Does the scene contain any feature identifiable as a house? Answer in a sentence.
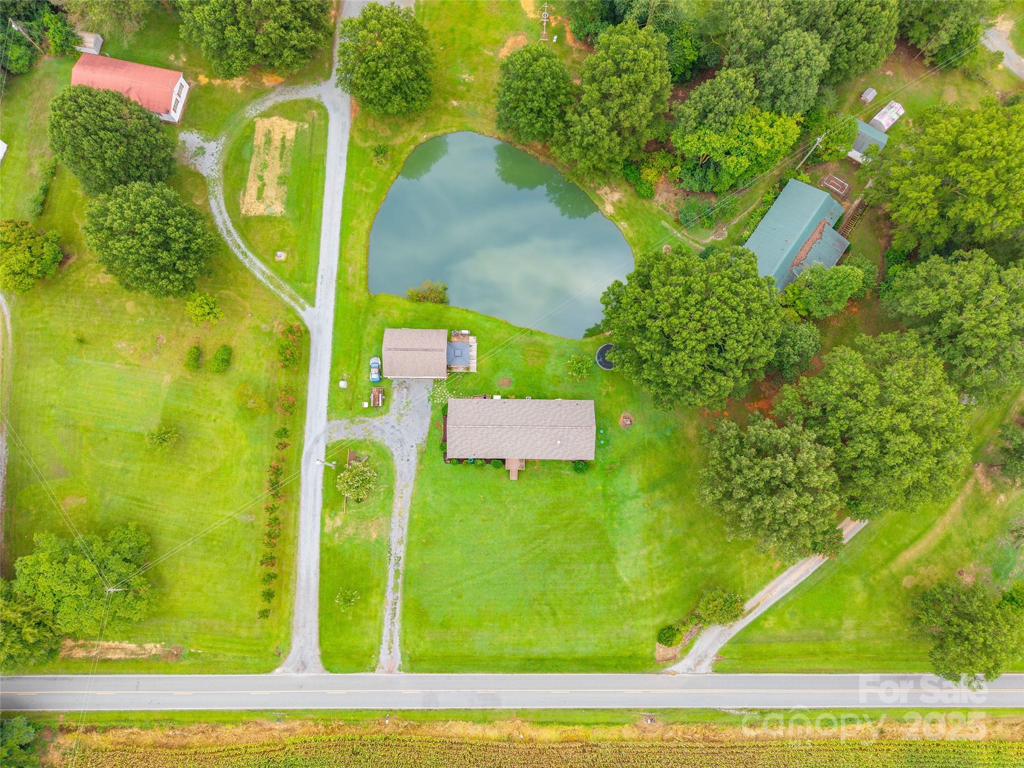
Yes, you can see a house in this photo.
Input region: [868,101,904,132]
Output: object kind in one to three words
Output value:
shed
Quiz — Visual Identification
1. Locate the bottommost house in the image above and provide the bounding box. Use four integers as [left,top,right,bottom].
[446,398,595,460]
